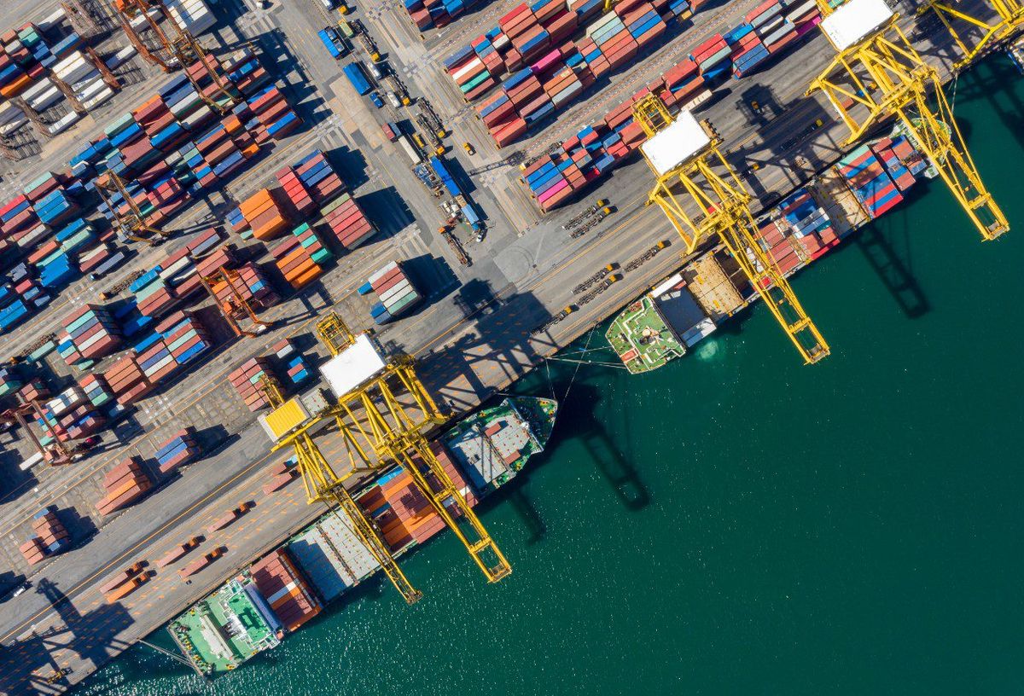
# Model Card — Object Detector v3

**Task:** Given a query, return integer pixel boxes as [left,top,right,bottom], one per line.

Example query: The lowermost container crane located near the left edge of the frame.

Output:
[11,396,101,467]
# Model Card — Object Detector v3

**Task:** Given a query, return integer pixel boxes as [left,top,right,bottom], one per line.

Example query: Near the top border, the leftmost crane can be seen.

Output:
[111,0,197,87]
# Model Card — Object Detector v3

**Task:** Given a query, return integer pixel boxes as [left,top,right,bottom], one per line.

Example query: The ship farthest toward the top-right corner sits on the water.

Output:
[999,38,1024,100]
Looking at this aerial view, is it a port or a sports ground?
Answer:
port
